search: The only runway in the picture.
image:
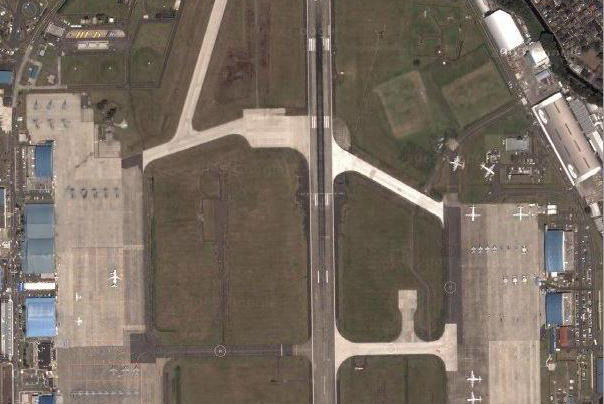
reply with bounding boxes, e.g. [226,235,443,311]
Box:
[307,0,336,404]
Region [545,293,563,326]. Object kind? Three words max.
hangar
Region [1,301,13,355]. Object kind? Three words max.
building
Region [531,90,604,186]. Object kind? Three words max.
building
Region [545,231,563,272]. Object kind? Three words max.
hangar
